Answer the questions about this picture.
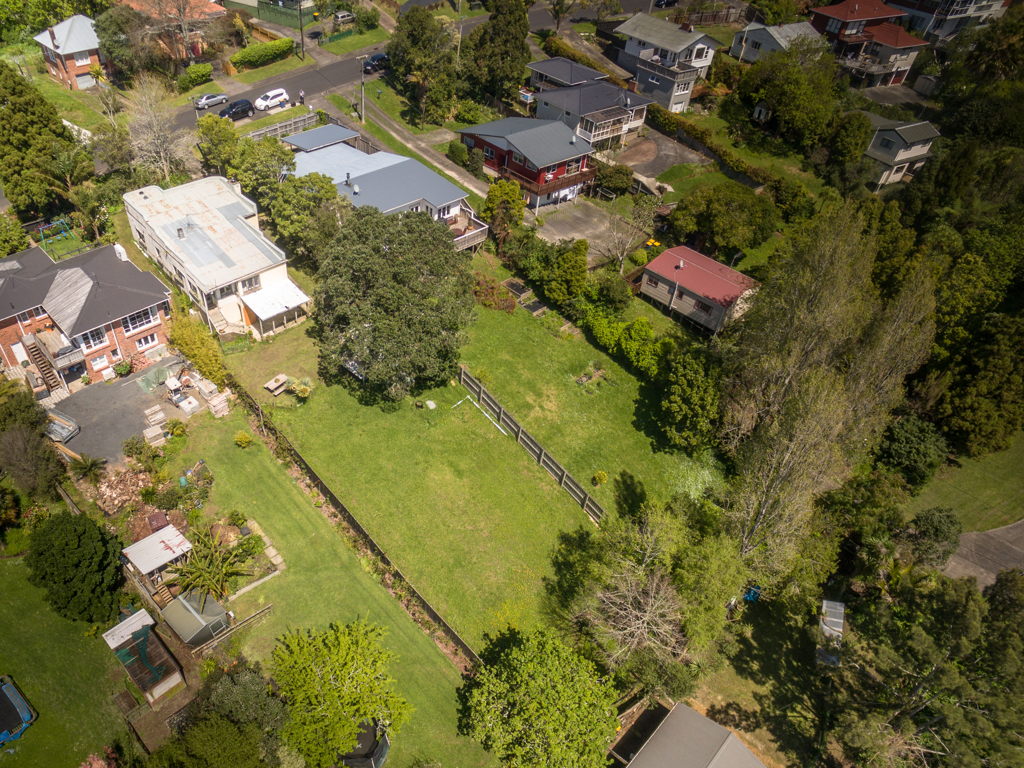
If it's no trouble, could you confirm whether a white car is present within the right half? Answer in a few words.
No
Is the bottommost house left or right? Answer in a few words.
right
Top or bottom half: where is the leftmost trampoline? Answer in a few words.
bottom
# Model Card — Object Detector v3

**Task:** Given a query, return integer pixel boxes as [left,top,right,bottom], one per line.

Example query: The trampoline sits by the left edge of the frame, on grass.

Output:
[0,678,39,751]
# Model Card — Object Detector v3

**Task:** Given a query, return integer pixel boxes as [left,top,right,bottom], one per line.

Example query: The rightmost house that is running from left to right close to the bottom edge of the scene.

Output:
[626,702,772,768]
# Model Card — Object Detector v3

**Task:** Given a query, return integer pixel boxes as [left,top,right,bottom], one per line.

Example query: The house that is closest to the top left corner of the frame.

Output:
[33,15,106,92]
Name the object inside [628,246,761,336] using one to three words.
house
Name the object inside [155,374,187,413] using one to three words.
work vehicle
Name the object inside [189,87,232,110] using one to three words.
car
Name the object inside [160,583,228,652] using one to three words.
shed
